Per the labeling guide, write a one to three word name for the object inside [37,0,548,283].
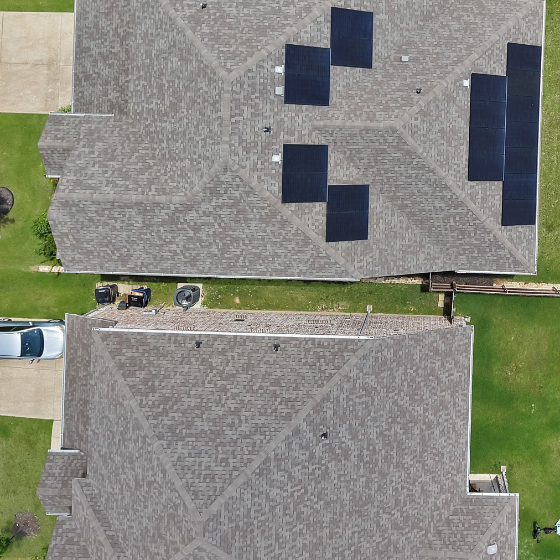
house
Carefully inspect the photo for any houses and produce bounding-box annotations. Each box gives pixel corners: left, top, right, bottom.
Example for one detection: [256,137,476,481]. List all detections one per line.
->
[37,301,522,560]
[37,0,548,283]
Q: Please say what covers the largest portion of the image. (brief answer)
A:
buildings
